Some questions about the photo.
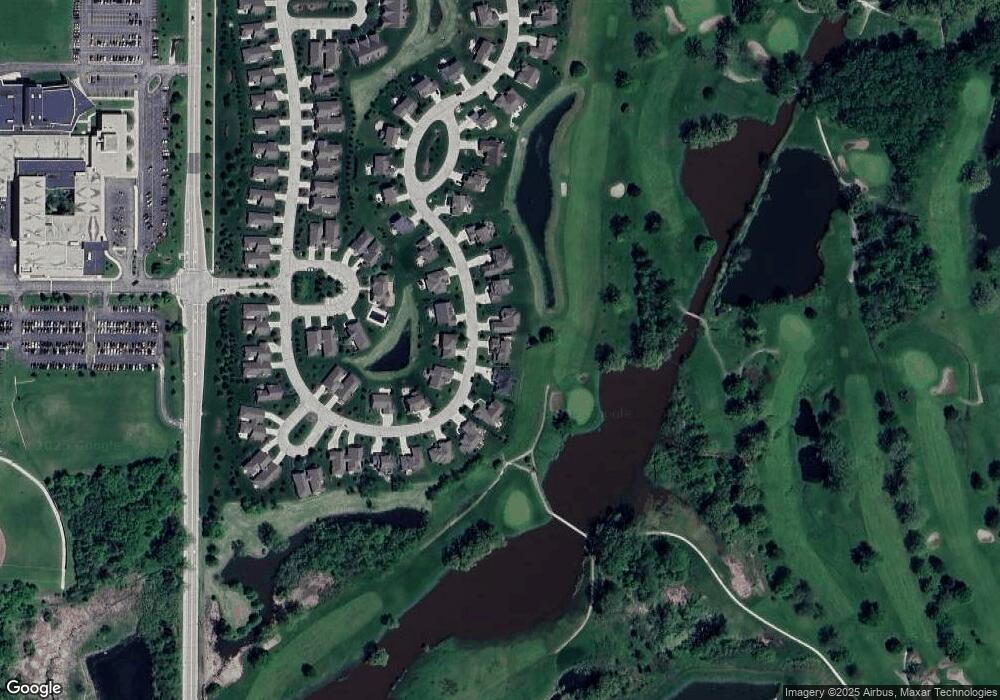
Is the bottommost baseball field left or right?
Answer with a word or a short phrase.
left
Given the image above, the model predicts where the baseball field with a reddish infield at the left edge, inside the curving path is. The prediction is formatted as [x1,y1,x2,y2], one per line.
[0,464,61,589]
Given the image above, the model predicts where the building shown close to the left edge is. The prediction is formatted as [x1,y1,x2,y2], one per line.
[0,78,127,277]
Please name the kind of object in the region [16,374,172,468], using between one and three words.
sports field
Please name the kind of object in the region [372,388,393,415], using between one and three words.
house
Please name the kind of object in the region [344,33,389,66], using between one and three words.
building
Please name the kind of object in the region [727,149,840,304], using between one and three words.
pond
